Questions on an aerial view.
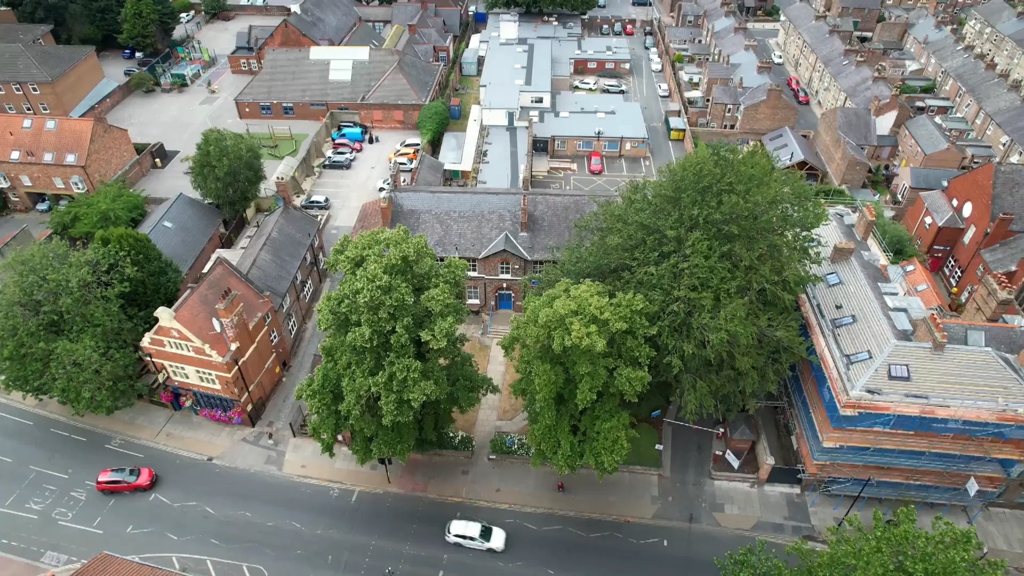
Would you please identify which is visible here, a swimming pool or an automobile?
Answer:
automobile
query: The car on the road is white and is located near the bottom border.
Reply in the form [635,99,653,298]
[442,513,510,549]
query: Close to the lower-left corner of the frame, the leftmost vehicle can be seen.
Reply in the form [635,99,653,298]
[88,460,159,493]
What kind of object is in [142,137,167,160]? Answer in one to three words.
building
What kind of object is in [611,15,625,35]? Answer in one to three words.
car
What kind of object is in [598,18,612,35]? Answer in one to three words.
car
